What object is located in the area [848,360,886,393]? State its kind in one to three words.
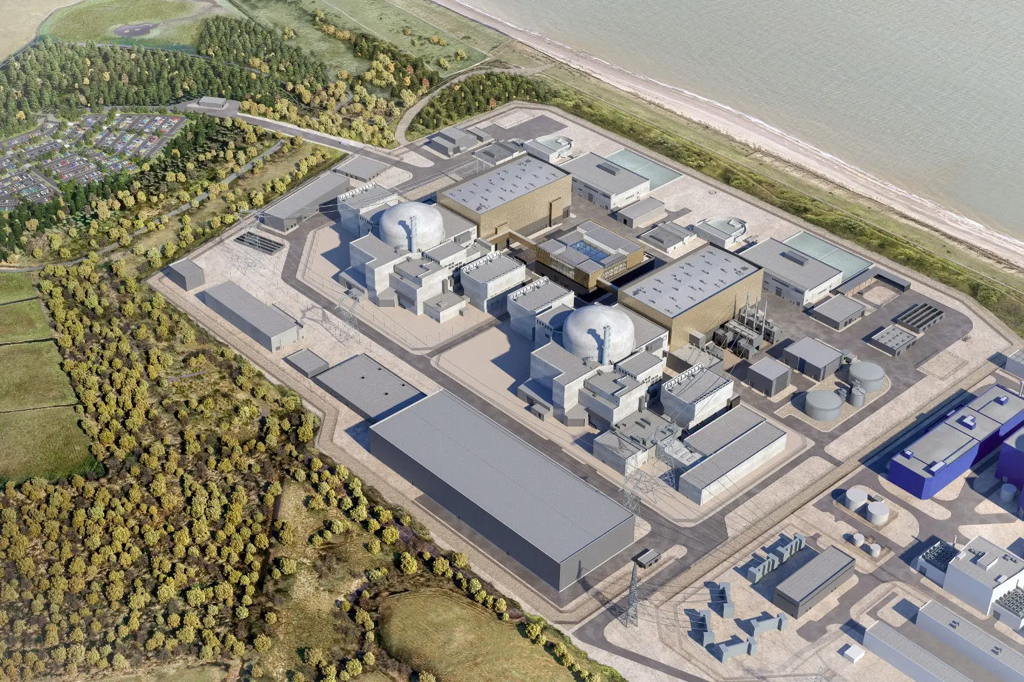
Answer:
storage tank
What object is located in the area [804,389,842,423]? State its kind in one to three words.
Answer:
storage tank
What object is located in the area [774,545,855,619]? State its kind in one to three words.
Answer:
building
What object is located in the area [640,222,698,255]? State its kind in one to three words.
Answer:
house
